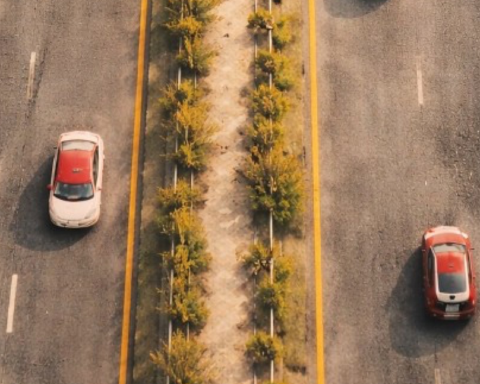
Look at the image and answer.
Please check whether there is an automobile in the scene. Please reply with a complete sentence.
Yes, there's an automobile down there.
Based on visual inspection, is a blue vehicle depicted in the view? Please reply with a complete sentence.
No, there is no blue vehicle in the image.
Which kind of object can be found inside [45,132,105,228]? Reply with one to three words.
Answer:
car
